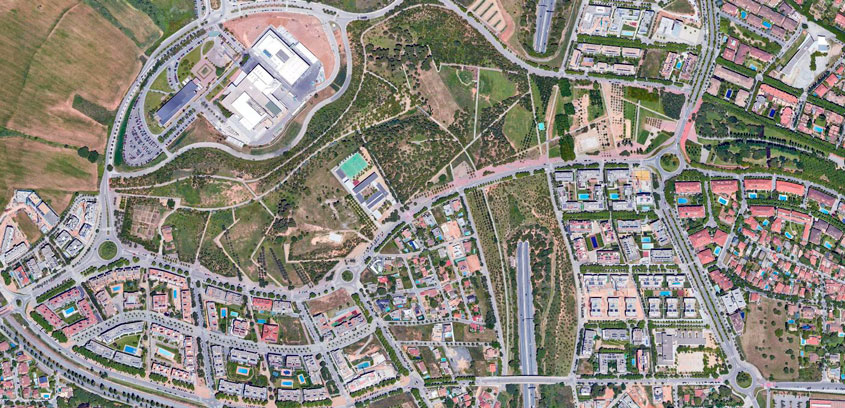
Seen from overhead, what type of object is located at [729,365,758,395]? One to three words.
roundabout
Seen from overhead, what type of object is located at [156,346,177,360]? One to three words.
swimming pool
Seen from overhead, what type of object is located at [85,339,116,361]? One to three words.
building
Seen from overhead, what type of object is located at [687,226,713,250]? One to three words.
house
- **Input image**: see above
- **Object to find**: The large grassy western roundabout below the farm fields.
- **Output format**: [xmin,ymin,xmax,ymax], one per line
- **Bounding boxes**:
[92,235,122,264]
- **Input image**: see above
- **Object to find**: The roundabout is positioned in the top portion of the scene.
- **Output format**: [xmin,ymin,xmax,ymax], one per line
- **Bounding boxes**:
[654,146,685,178]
